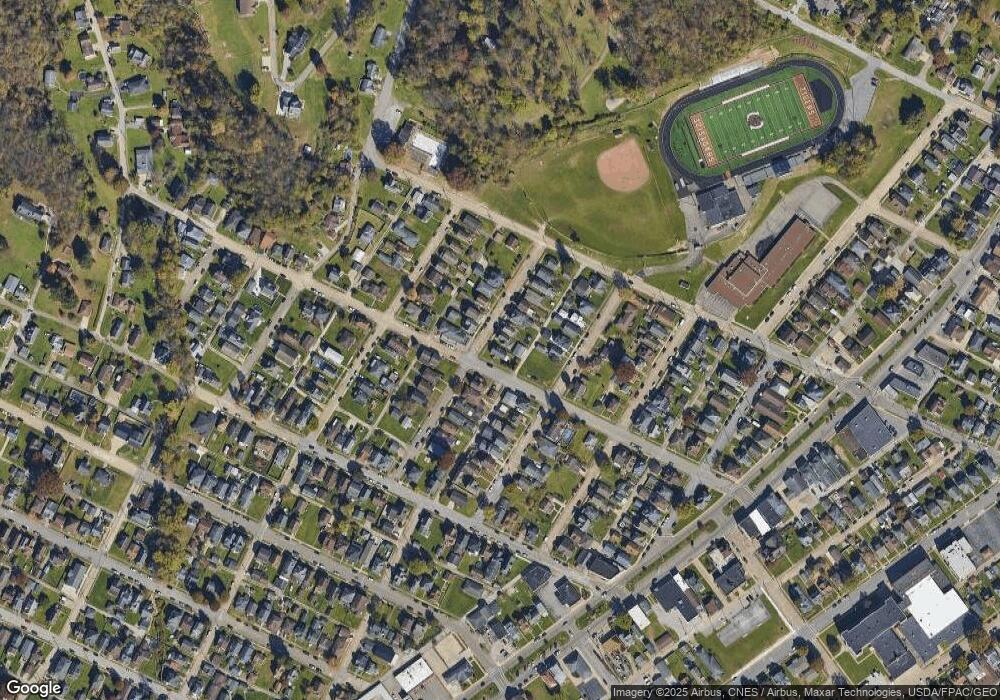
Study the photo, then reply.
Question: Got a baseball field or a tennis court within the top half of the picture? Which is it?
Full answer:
You can see a baseball field within the top half of the picture.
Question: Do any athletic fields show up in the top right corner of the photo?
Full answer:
Yes, the scene does show an athletic field in the top right corner of the photo.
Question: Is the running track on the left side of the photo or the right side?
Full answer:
The running track is on the right side of the image.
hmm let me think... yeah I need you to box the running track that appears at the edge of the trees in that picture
[666,62,845,198]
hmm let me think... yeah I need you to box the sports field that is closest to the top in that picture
[676,72,835,175]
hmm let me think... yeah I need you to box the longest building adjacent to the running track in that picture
[706,217,815,309]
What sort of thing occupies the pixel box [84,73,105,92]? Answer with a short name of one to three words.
house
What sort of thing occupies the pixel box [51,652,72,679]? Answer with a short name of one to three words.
house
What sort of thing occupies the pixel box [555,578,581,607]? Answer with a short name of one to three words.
building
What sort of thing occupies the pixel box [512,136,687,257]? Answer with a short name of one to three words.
baseball field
